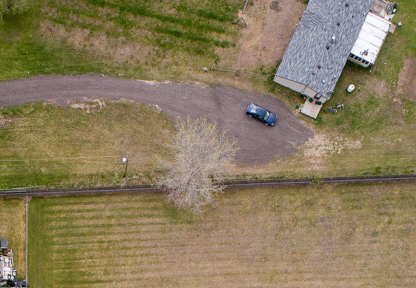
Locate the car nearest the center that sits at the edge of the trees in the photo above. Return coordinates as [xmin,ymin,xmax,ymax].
[246,99,280,125]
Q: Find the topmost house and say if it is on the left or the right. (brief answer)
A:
right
